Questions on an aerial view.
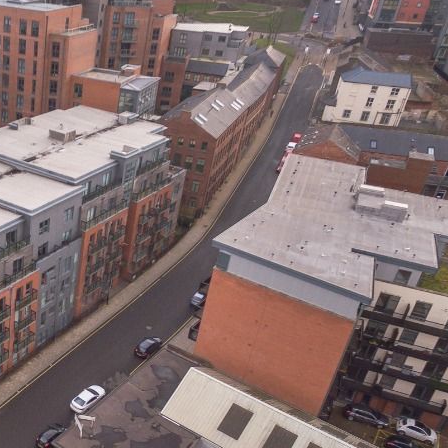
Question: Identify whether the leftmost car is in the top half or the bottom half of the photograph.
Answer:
bottom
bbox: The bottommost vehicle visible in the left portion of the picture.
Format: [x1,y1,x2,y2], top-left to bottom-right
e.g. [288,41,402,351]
[32,421,66,448]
